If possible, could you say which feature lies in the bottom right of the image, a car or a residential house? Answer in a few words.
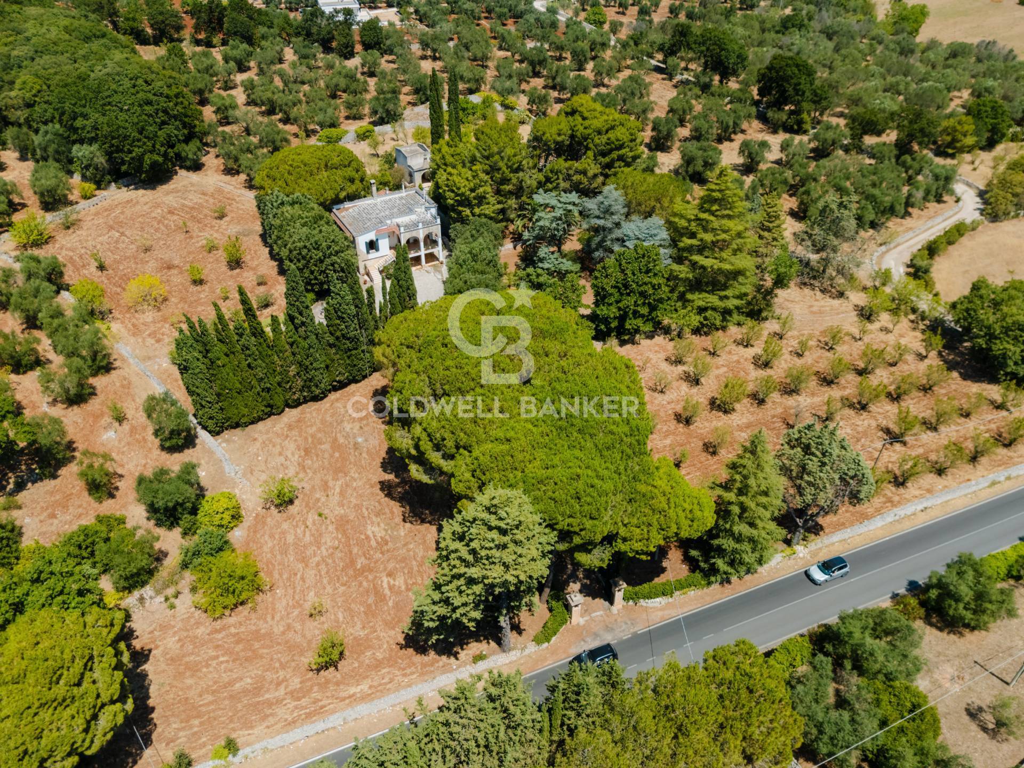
car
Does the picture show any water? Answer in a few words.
No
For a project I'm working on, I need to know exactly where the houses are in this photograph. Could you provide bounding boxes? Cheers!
[331,179,442,284]
[301,0,417,26]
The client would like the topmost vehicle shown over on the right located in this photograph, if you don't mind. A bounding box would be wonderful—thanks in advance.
[804,555,853,586]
